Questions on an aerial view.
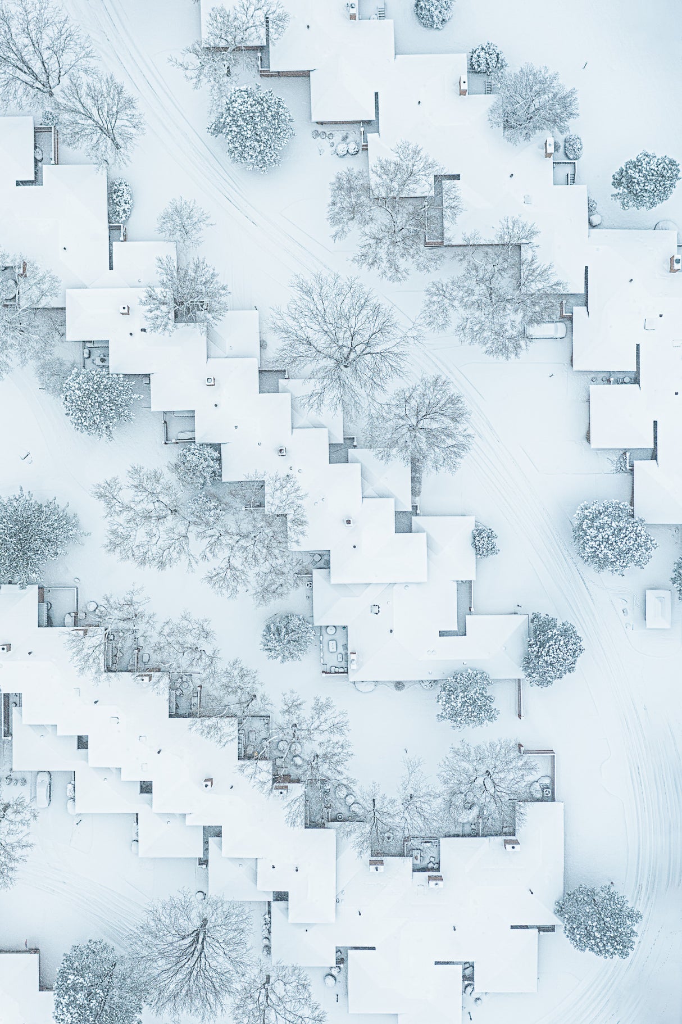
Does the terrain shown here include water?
No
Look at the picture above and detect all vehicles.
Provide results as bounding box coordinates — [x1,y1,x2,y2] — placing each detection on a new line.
[35,771,54,808]
[525,321,565,340]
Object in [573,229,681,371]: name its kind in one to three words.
house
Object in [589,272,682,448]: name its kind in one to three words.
house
